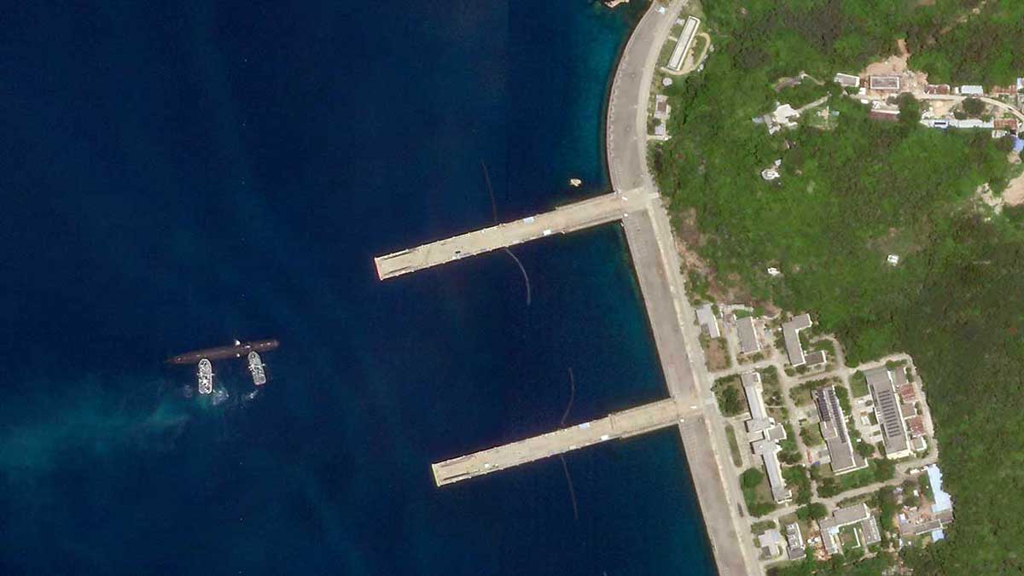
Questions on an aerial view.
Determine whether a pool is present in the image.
No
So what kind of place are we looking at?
port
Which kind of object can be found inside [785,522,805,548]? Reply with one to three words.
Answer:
house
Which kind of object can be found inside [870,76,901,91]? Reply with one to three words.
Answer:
house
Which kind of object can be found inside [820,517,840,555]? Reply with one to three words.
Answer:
building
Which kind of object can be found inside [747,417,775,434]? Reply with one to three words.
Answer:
building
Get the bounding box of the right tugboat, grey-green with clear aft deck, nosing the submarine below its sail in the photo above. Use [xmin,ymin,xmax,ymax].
[248,350,267,387]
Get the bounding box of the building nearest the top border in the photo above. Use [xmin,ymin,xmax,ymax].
[667,16,701,72]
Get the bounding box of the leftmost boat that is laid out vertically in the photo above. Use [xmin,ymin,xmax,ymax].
[195,357,213,396]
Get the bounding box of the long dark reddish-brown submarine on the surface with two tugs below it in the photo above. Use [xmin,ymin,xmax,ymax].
[166,340,279,360]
